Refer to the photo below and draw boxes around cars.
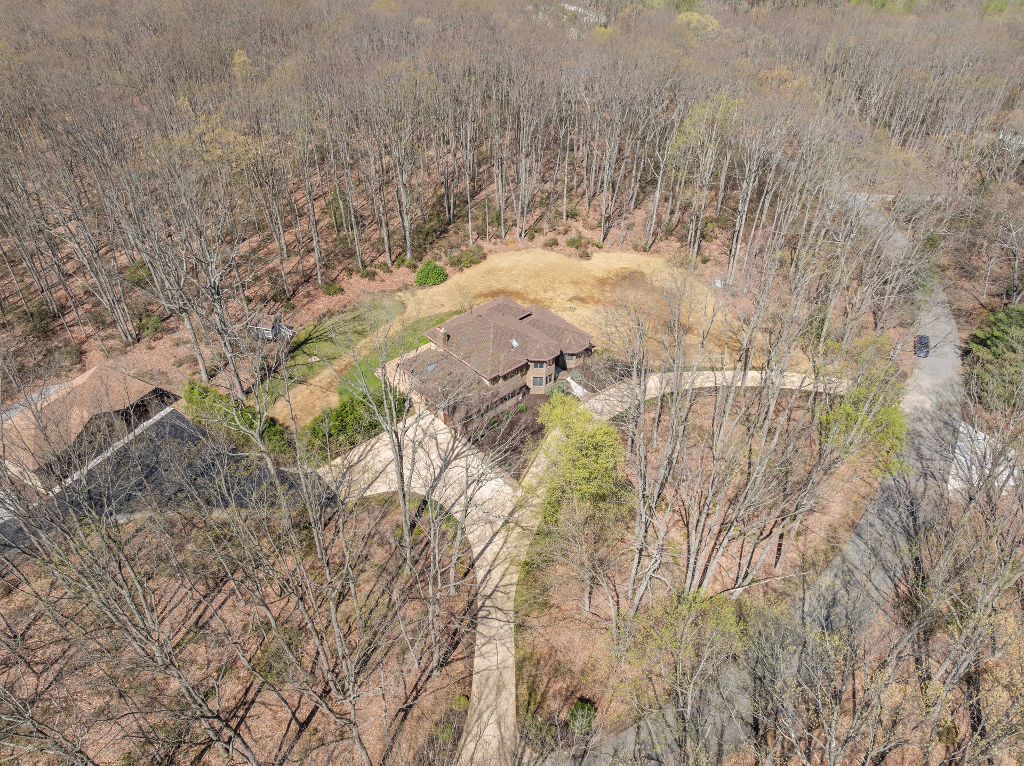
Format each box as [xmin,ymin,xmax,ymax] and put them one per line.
[915,331,934,357]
